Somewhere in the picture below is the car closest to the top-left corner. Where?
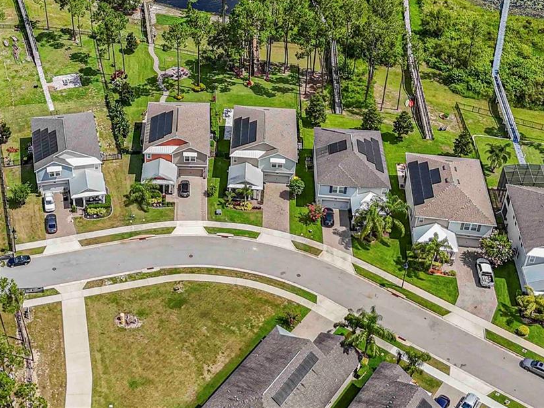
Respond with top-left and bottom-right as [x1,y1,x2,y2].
[42,193,55,211]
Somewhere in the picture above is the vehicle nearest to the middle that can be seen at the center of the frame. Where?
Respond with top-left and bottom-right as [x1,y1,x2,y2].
[322,207,335,228]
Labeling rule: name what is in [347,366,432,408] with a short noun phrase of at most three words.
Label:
house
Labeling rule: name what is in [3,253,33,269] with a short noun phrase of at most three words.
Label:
car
